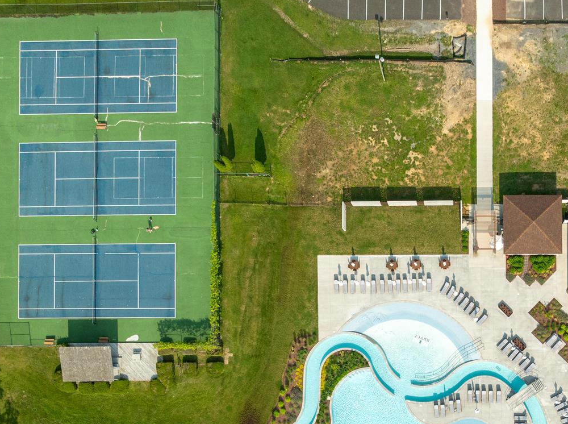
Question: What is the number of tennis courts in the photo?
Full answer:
The count of tennis courts comes to 3.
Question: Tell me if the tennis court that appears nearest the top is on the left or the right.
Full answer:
It is on the left.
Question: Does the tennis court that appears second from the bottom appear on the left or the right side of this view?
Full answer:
The tennis court that appears second from the bottom appears in the left half of the scene.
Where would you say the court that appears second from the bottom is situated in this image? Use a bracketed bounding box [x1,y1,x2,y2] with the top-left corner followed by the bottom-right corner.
[18,132,176,221]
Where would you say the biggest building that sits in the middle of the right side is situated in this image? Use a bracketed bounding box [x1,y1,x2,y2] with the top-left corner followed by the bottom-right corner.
[501,194,562,255]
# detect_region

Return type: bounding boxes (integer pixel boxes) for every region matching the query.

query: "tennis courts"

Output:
[18,235,176,324]
[18,132,176,221]
[19,28,177,117]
